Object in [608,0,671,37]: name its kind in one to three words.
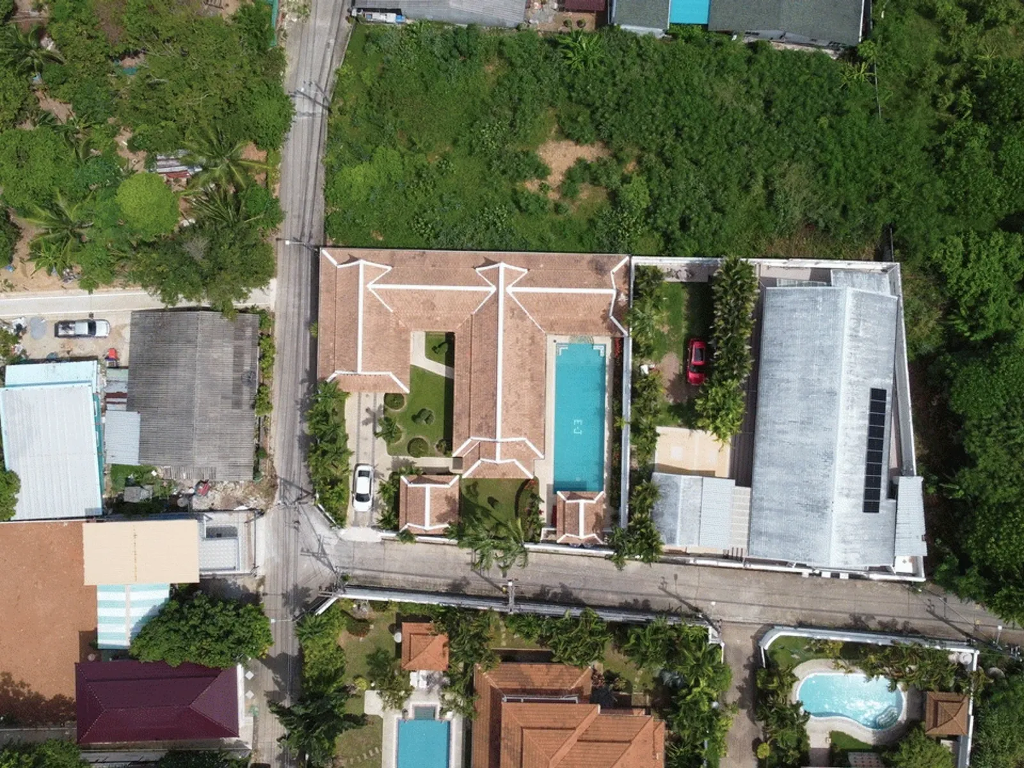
building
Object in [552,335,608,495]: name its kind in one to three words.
swimming pool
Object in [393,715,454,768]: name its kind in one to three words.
swimming pool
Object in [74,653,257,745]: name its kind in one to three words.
house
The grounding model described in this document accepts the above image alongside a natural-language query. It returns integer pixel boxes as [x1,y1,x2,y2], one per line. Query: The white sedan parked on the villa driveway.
[349,464,373,512]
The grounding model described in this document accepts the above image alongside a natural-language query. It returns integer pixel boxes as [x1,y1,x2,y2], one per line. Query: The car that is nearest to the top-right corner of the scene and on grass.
[685,339,709,385]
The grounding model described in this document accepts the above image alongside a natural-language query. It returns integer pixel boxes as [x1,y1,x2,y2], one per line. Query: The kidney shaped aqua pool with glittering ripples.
[797,669,906,733]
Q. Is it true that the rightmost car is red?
Yes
